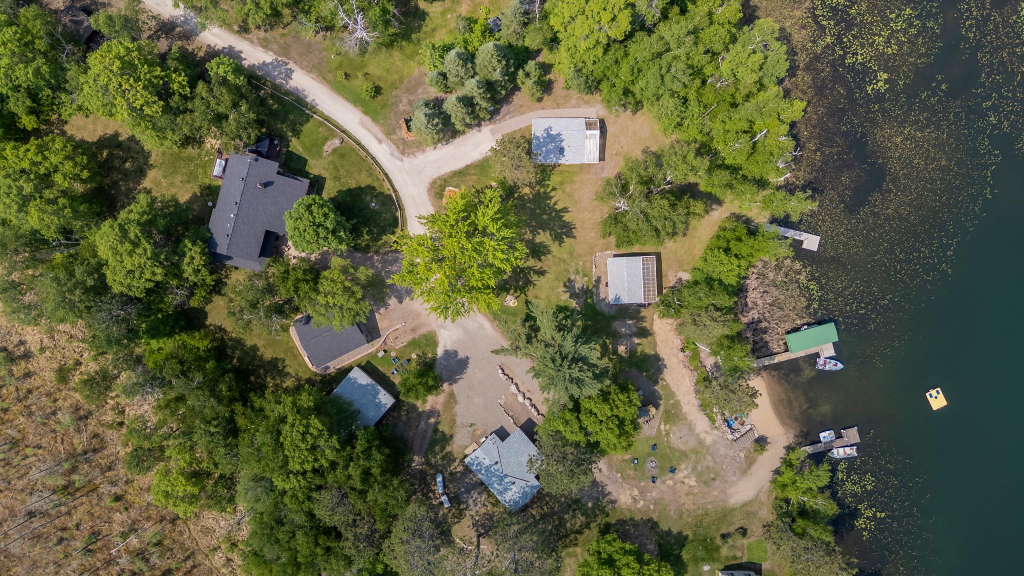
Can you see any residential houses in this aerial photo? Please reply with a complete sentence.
Yes, there's a residential house down there.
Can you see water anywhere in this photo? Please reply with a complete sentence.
Yes, the picture does contain water.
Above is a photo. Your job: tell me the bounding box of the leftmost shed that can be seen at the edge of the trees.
[59,3,99,46]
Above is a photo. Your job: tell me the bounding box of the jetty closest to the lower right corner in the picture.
[802,427,861,455]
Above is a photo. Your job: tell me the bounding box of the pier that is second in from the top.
[746,342,836,369]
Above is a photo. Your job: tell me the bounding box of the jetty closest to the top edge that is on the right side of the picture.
[766,225,820,251]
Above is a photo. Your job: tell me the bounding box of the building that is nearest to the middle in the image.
[607,256,643,304]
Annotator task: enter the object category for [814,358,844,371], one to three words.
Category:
boat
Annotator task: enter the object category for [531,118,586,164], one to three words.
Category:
building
